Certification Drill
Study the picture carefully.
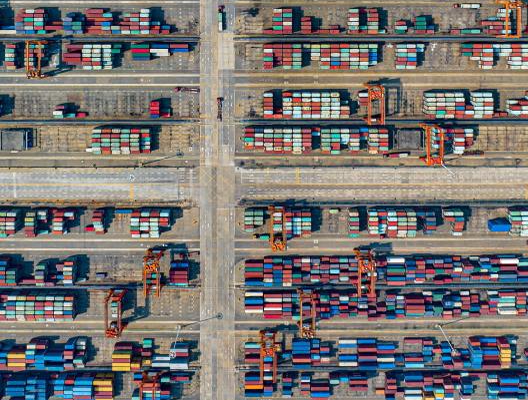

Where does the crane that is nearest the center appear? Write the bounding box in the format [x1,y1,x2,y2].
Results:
[267,205,287,259]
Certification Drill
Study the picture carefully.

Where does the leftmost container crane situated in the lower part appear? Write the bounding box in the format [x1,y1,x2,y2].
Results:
[107,285,133,342]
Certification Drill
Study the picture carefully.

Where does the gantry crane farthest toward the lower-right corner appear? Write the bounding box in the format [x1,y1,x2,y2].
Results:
[351,244,374,298]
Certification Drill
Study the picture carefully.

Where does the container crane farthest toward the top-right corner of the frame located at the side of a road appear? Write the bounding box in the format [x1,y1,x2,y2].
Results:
[490,0,519,42]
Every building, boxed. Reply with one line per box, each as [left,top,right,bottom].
[392,130,426,152]
[0,130,31,153]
